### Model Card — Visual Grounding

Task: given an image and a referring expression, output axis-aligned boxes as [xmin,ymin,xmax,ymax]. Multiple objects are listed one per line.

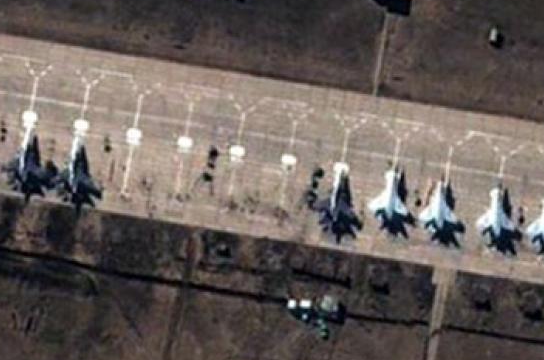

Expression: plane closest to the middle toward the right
[311,165,355,230]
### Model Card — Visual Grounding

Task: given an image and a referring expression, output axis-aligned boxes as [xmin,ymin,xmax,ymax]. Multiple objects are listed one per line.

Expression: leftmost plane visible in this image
[2,122,46,188]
